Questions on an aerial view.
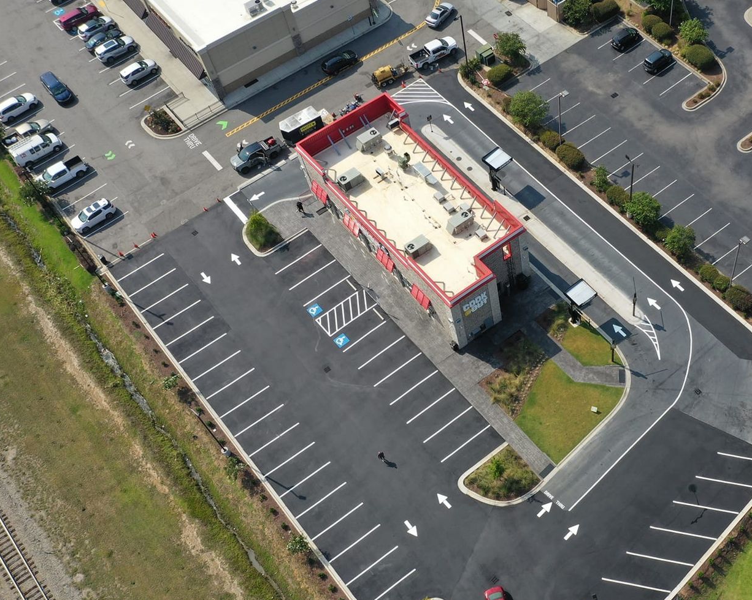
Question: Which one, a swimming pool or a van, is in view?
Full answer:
This aerial view contains a van.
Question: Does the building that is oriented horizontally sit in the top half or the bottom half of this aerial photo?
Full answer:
The building that is oriented horizontally sits in the top half of the picture.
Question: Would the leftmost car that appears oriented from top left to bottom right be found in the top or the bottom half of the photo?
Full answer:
You can find the leftmost car that appears oriented from top left to bottom right in the top half.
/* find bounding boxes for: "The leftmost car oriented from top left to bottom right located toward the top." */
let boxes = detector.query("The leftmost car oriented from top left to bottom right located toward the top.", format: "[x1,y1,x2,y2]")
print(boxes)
[38,69,76,102]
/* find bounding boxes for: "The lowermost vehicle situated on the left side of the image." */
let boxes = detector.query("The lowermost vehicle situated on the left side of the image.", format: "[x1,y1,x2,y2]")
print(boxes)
[70,198,120,232]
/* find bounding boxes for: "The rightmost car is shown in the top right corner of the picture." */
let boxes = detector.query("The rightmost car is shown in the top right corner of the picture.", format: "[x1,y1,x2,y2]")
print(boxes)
[642,49,676,74]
